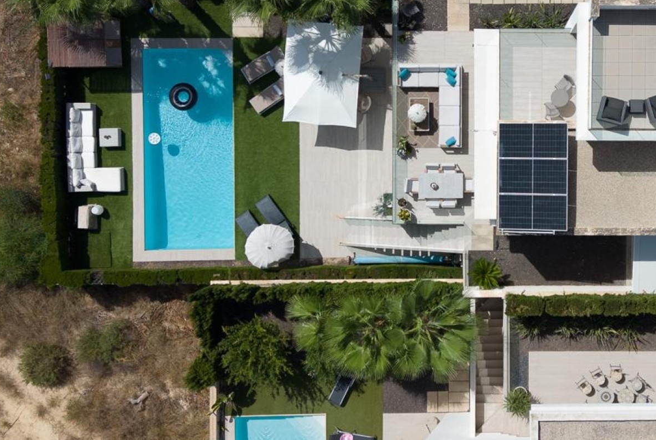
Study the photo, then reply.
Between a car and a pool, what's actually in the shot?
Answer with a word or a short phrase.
pool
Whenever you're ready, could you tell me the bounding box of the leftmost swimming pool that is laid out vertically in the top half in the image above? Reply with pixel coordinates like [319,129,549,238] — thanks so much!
[143,49,233,250]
